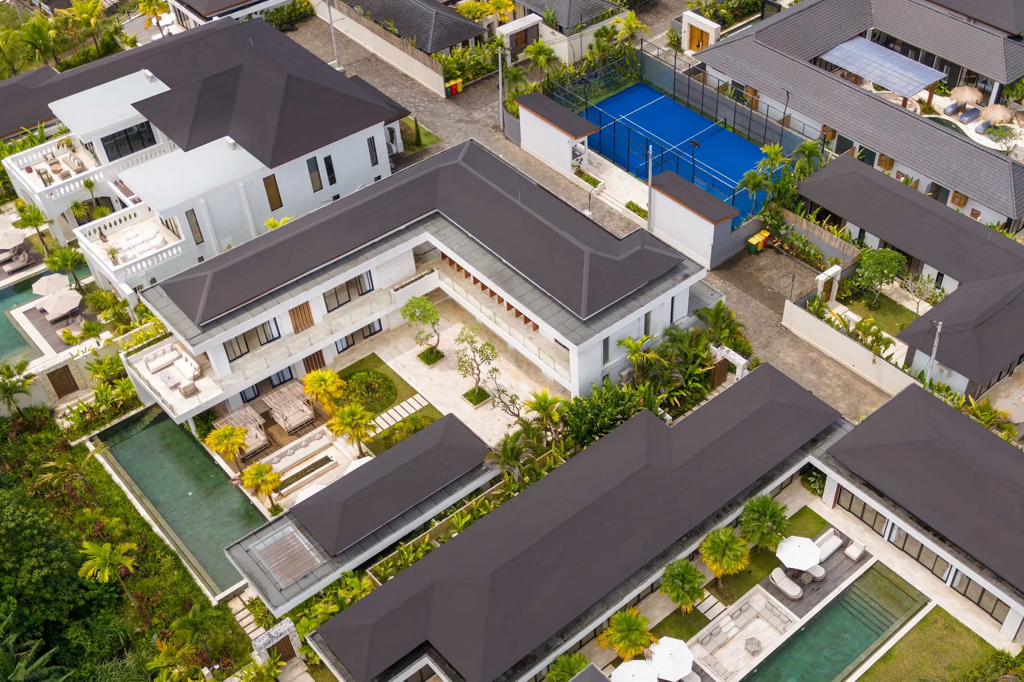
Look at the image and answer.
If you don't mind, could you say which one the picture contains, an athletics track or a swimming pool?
swimming pool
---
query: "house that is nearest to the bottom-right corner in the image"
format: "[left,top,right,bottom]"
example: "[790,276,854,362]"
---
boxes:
[809,381,1024,640]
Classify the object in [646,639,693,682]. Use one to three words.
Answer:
umbrella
